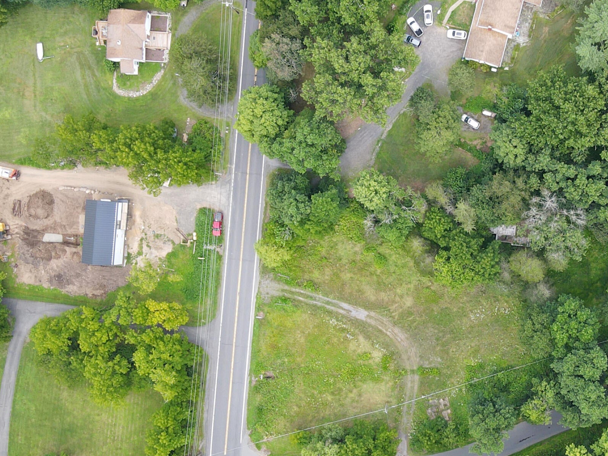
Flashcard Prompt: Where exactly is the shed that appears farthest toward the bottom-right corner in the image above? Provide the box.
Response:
[489,227,528,246]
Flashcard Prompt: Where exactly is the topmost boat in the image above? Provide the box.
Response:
[37,40,54,60]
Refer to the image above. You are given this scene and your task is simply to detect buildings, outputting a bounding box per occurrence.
[463,0,546,66]
[489,227,528,246]
[83,199,130,264]
[107,7,151,74]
